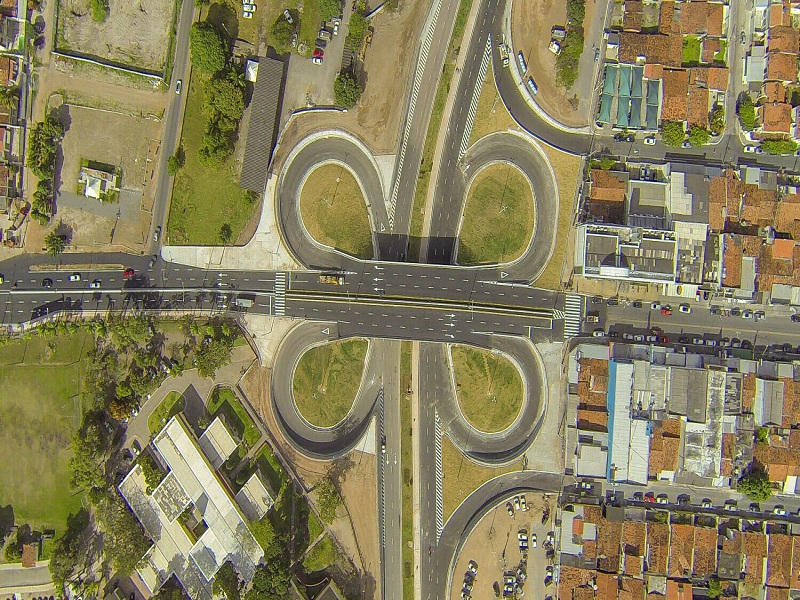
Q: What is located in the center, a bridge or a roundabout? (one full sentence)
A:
There is a bridge in the center.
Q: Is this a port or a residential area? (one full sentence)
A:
It's a residential area.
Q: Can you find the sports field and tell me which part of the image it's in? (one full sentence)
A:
The sports field is located in the bottom left region of the scene.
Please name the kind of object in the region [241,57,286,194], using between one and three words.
shed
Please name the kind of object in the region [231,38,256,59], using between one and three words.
shed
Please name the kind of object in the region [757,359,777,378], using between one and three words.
house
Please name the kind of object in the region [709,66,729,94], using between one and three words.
house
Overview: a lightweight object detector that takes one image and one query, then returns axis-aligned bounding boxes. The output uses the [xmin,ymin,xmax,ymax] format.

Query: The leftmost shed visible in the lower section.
[21,541,40,567]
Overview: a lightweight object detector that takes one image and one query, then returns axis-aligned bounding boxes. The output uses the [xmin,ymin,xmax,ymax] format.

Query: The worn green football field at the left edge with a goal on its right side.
[0,373,84,531]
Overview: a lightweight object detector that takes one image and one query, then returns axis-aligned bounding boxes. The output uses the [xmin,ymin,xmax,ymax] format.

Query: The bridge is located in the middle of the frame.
[371,262,455,343]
